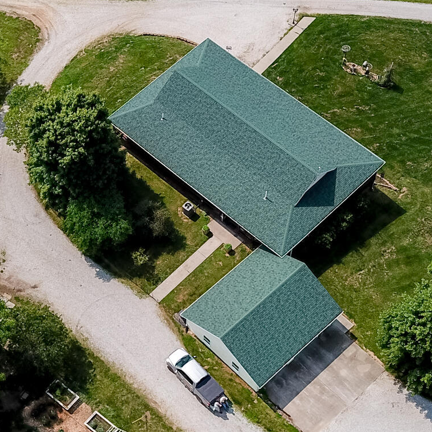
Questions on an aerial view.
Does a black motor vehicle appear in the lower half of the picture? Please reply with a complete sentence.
No, no black motor vehicle can be made out in the lower half of the picture.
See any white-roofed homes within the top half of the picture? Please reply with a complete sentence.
No, no white-roofed home appears within the top half of the picture.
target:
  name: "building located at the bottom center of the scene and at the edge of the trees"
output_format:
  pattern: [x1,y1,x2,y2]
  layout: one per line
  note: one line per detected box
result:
[178,243,344,399]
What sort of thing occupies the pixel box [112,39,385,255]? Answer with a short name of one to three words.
house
